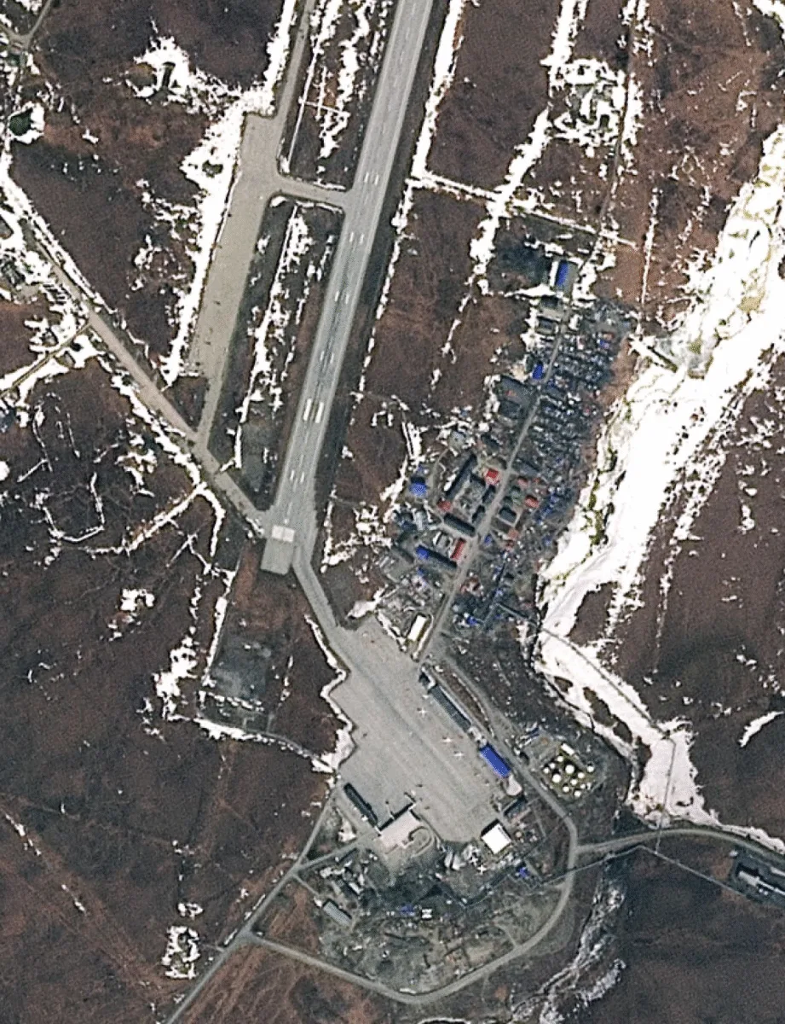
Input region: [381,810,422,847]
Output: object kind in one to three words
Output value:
building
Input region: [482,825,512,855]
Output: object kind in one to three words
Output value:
hangar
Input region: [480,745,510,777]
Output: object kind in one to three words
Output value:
building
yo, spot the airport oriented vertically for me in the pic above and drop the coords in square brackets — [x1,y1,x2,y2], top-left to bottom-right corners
[189,0,508,869]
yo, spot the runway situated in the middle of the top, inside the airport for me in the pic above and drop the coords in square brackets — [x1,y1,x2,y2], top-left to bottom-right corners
[268,0,432,540]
